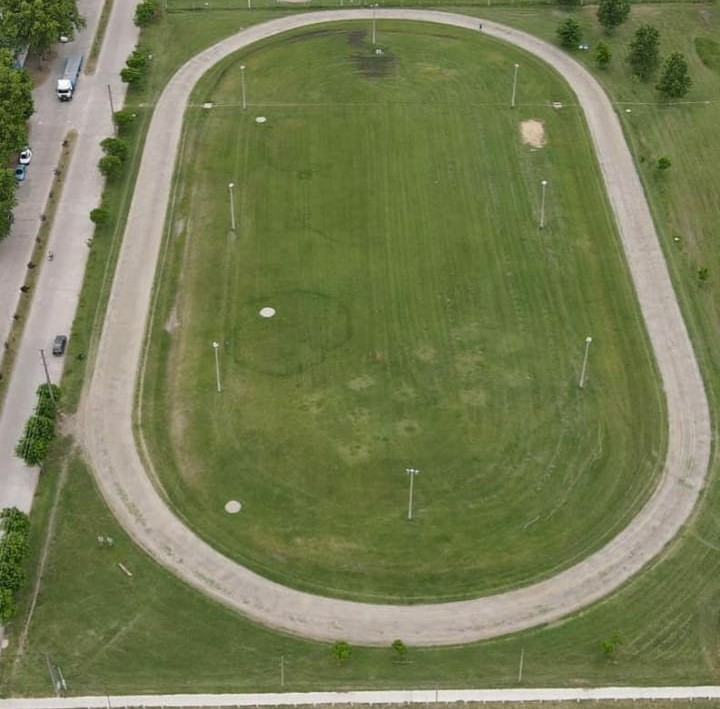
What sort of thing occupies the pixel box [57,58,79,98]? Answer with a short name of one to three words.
truck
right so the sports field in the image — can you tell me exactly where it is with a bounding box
[131,19,669,605]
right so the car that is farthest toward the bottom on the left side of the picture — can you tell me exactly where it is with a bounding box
[52,336,66,356]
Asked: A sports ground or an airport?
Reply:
sports ground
